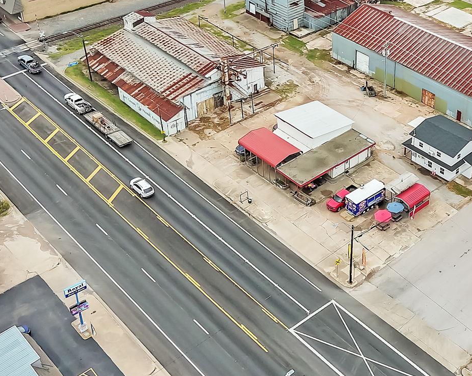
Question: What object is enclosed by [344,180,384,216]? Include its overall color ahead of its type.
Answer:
white trailer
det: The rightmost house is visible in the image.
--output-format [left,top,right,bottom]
[402,114,472,182]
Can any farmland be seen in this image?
No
